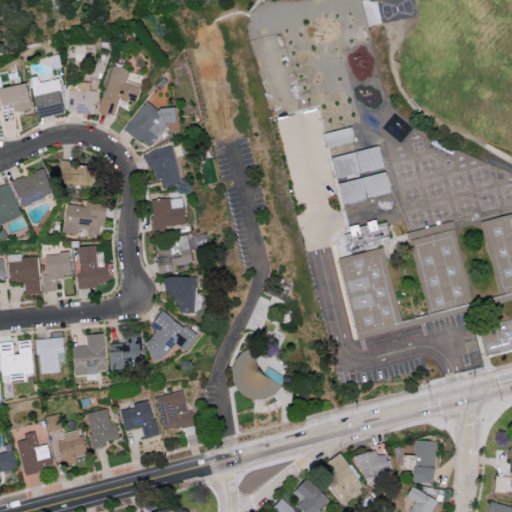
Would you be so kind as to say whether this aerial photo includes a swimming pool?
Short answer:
Yes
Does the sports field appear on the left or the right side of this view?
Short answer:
right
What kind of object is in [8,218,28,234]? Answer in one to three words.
swimming pool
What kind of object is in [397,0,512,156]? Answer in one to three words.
sports field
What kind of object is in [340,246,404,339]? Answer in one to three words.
building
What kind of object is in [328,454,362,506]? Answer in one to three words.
house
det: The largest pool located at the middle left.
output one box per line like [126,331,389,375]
[28,204,50,224]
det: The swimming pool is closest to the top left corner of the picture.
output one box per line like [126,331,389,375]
[31,64,52,76]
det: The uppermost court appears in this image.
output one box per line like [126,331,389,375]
[380,0,416,22]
